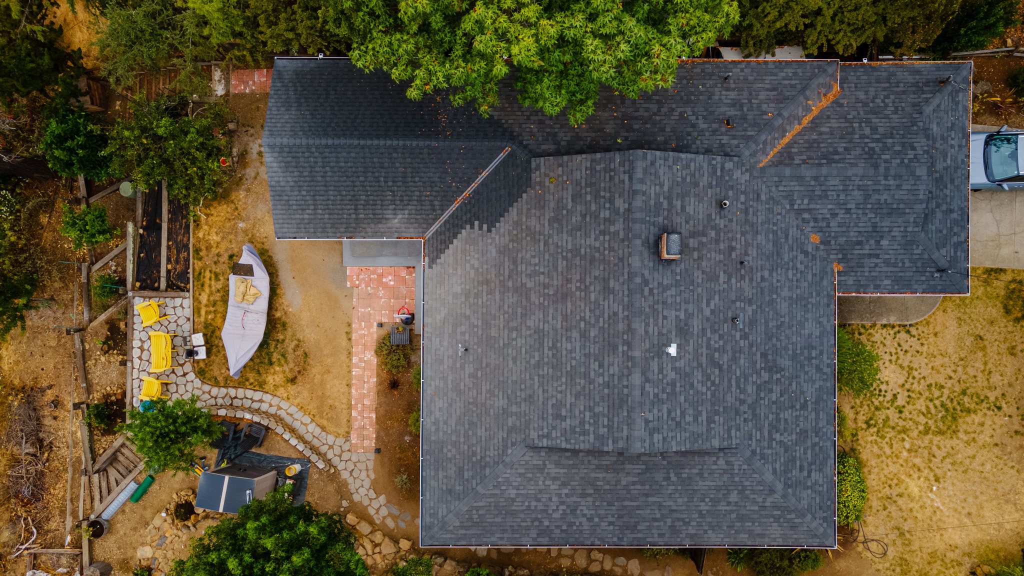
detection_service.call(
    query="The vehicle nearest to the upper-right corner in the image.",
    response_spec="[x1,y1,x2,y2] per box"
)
[972,126,1024,192]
